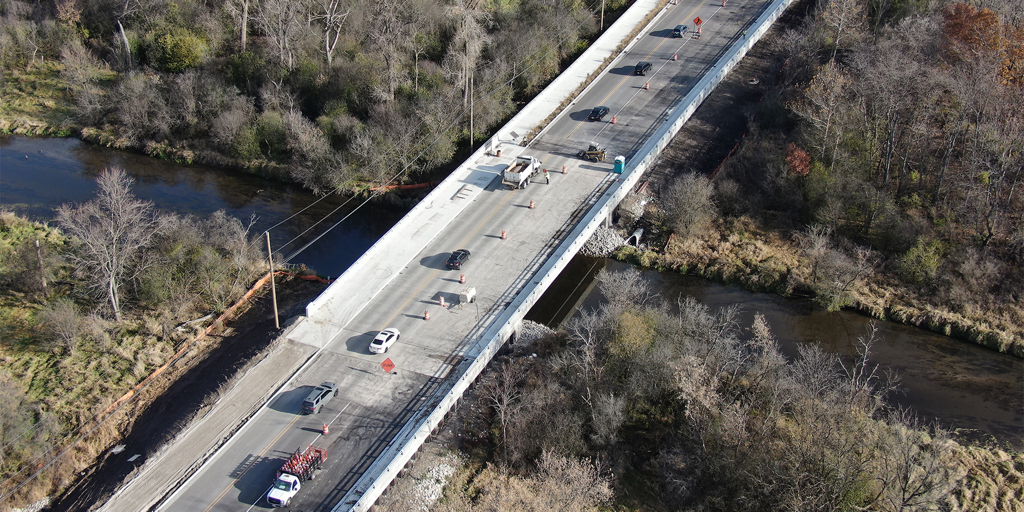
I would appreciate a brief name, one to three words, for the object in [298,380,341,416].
car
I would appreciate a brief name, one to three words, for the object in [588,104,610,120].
car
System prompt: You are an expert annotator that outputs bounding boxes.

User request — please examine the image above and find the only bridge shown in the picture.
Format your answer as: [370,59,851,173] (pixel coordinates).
[285,0,791,512]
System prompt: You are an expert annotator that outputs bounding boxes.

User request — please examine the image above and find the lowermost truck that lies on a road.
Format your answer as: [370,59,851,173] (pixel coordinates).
[263,442,327,511]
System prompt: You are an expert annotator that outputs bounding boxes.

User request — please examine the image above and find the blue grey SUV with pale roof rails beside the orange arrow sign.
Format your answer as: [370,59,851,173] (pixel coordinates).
[671,22,690,38]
